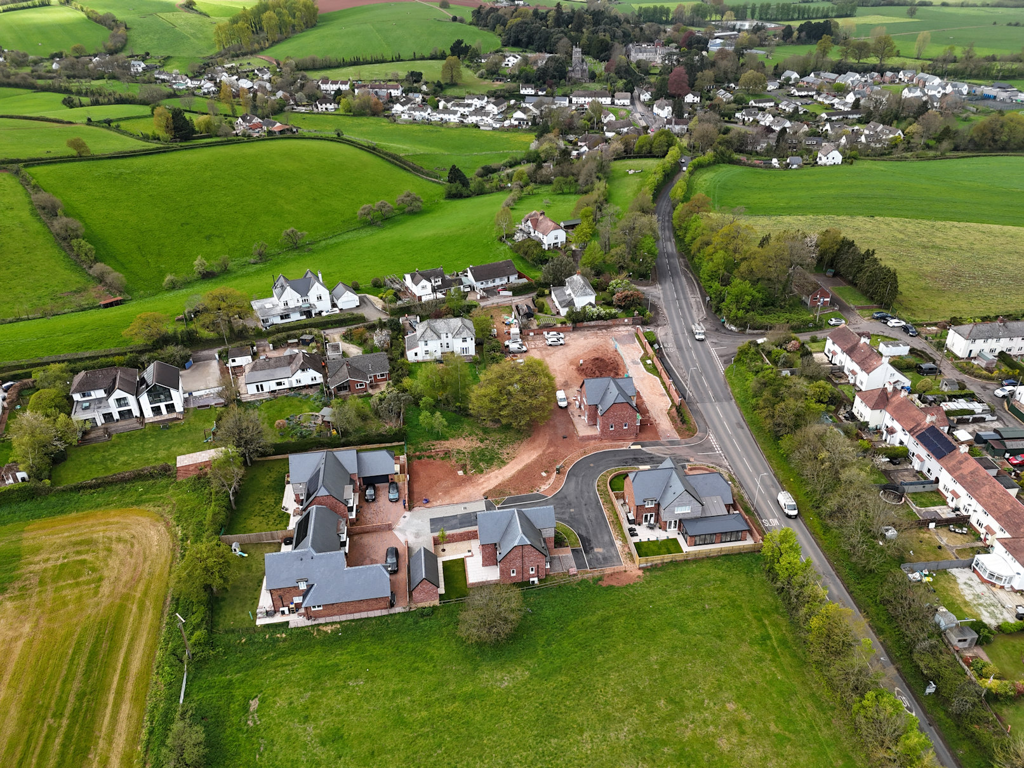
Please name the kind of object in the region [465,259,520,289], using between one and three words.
house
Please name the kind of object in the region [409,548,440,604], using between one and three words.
building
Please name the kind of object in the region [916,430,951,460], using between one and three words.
solar panel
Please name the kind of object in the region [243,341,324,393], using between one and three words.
house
